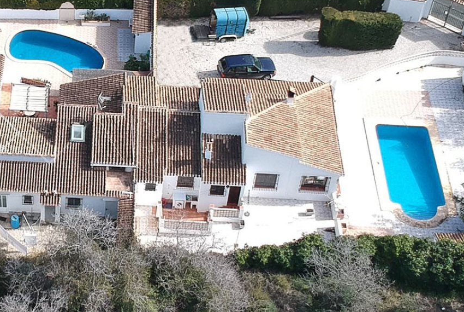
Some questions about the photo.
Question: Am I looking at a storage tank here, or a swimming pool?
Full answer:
The image shows a swimming pool.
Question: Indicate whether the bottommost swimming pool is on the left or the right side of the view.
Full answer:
The bottommost swimming pool is on the right side of the image.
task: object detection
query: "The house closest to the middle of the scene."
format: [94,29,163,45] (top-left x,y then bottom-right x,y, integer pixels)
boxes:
[201,78,345,204]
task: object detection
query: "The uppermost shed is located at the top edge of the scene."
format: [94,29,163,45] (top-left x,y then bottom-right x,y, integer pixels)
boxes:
[132,0,154,54]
